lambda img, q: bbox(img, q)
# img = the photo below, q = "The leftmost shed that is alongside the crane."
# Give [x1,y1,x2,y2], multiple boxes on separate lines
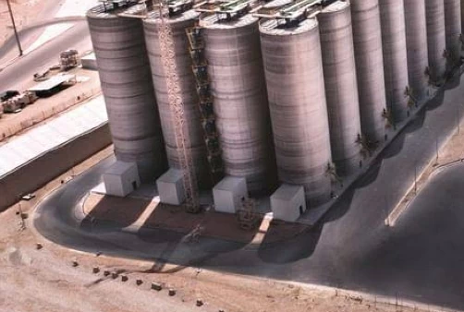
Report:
[0,106,111,212]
